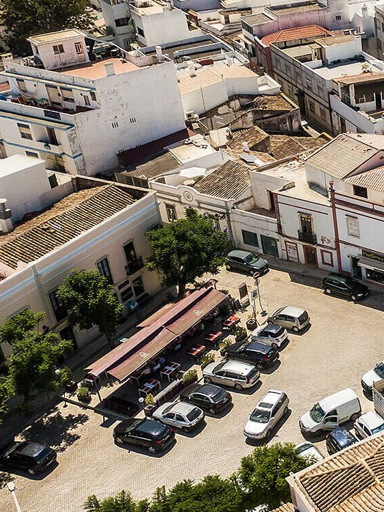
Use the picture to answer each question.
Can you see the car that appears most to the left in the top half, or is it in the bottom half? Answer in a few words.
bottom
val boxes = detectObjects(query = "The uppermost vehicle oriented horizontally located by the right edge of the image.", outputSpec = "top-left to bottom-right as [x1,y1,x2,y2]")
[318,270,372,302]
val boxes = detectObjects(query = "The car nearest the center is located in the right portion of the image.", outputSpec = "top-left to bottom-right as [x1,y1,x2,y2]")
[224,247,268,274]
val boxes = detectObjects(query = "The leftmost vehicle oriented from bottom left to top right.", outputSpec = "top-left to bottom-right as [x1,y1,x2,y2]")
[238,384,297,436]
